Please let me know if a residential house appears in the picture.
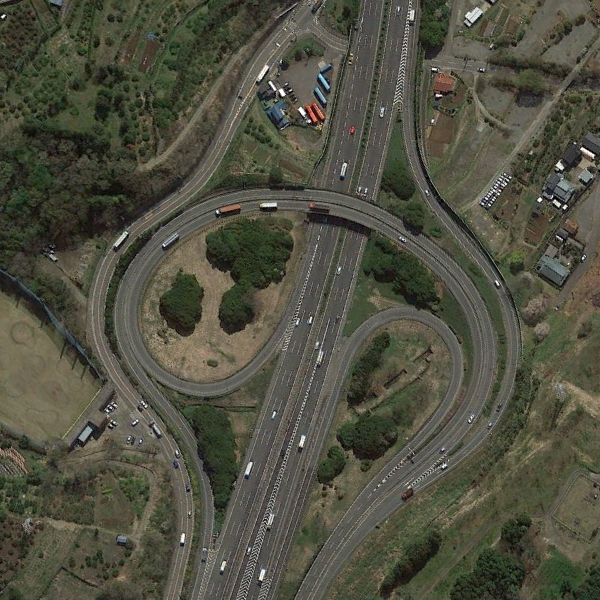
Yes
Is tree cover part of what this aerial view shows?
Yes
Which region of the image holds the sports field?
left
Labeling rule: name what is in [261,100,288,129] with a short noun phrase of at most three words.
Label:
house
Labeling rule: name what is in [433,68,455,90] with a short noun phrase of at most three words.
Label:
house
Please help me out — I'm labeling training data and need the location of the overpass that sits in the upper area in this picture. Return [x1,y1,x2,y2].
[303,188,386,231]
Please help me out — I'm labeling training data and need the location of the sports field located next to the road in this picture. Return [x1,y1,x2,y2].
[0,276,103,444]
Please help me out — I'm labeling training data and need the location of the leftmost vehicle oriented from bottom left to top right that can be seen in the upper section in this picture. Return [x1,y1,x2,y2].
[112,231,129,249]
